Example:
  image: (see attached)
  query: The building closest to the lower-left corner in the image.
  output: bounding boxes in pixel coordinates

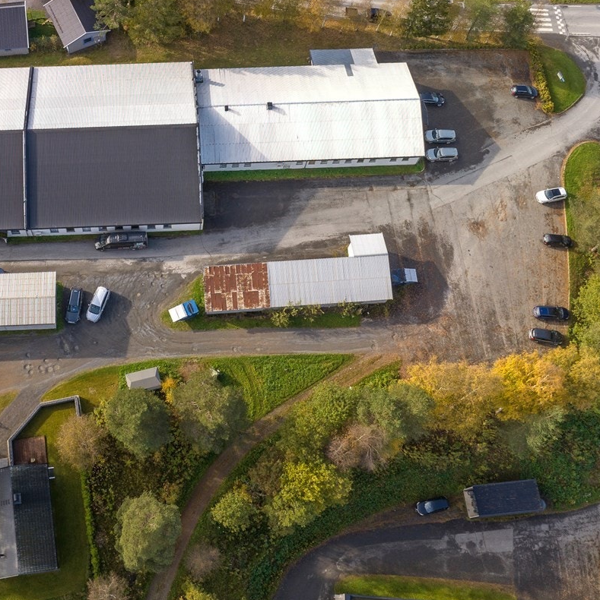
[0,465,58,580]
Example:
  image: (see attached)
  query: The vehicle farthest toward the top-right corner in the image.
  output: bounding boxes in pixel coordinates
[509,86,538,100]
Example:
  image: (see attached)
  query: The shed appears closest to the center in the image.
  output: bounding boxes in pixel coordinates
[203,232,393,316]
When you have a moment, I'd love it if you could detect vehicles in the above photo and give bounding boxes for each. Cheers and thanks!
[87,286,109,323]
[509,86,538,100]
[168,301,200,323]
[526,328,564,347]
[424,147,459,164]
[531,305,569,322]
[539,233,573,251]
[532,187,569,206]
[64,288,82,323]
[419,93,448,109]
[423,130,457,145]
[411,494,454,517]
[365,7,394,24]
[95,230,146,253]
[390,269,421,288]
